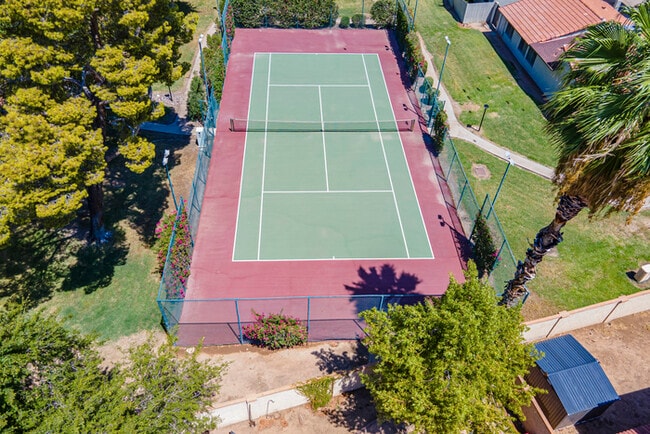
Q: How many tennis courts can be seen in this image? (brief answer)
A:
one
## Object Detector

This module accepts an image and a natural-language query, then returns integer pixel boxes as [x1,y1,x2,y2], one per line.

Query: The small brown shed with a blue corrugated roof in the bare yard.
[518,336,616,433]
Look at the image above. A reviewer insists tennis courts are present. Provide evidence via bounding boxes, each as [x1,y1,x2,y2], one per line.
[175,27,489,346]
